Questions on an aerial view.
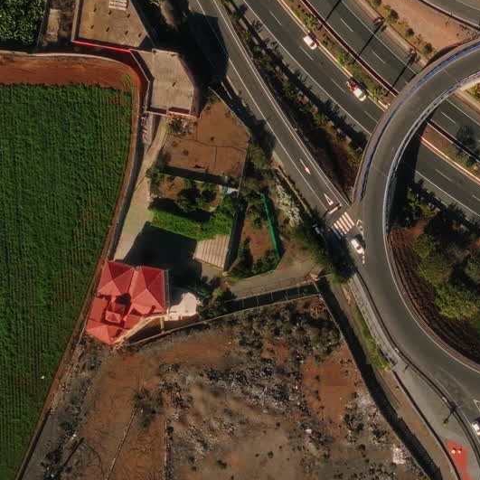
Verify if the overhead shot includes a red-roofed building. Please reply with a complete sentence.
Yes, this view includes a red-roofed building.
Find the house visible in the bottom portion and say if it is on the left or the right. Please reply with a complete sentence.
You can find the house visible in the bottom portion on the left side of the picture.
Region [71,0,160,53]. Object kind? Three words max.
building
